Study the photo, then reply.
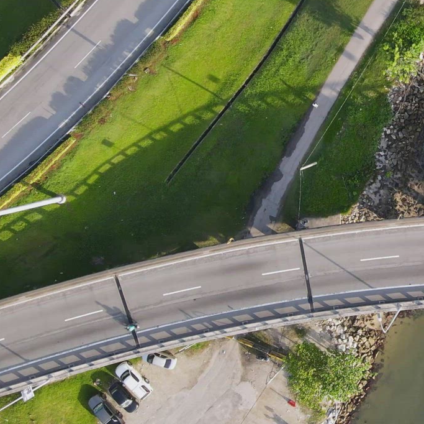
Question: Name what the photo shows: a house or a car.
car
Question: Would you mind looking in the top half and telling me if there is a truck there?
No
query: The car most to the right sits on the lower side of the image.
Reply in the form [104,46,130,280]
[142,352,179,370]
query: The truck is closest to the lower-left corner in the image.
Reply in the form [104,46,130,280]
[85,396,121,424]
